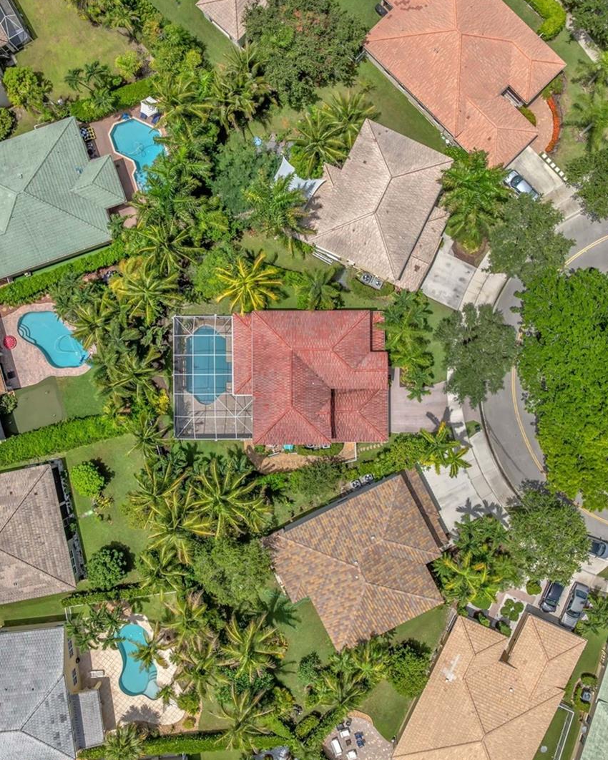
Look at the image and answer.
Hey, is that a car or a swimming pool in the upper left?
swimming pool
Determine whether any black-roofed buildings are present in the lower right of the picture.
No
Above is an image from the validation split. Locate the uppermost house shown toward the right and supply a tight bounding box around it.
[365,0,567,169]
